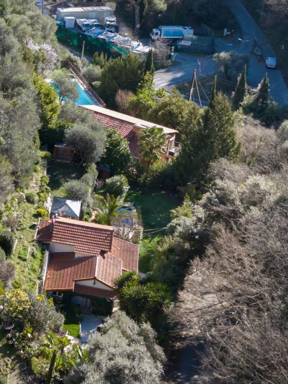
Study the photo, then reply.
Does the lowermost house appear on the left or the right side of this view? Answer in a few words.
left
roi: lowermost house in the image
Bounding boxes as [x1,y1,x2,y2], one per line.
[35,214,142,308]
